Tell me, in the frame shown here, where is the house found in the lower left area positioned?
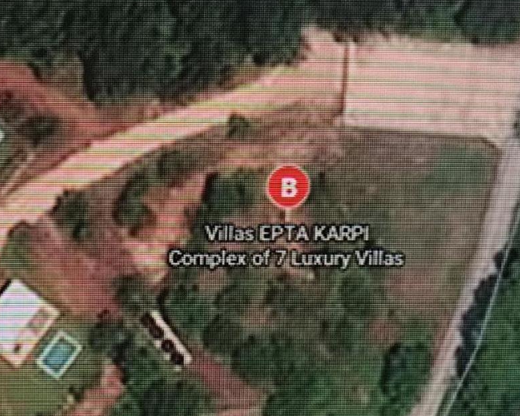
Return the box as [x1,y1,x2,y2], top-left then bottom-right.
[0,275,59,364]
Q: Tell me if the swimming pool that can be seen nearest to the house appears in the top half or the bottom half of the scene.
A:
bottom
